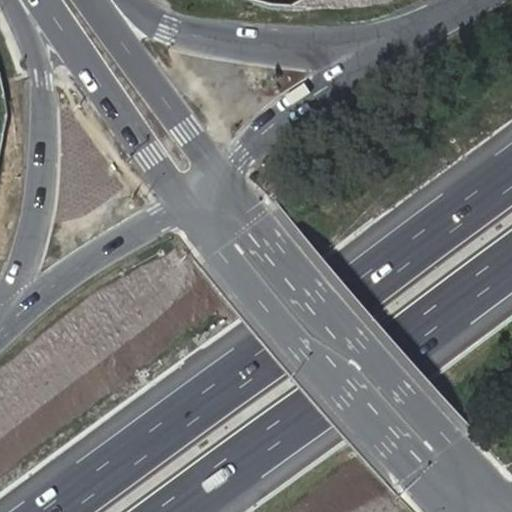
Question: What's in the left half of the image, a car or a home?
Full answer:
Looking in the left half of the image, you will find a car.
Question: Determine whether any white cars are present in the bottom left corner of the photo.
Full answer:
Yes, I can see a white car in the bottom left corner of the photo.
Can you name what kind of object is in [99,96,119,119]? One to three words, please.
car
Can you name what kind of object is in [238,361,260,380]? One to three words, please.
car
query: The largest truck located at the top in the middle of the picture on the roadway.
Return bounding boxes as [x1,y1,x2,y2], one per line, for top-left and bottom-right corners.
[274,82,311,114]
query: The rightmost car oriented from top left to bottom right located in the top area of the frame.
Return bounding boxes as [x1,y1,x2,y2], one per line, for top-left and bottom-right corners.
[120,124,140,148]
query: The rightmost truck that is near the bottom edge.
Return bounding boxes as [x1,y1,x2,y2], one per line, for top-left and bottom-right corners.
[202,462,238,493]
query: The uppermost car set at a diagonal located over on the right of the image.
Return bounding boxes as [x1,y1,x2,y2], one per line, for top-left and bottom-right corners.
[323,62,345,81]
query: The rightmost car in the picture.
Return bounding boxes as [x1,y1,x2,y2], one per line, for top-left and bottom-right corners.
[450,204,472,222]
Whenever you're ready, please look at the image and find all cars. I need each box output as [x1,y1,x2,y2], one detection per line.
[36,486,58,506]
[78,68,98,92]
[252,108,276,130]
[236,26,260,38]
[120,124,140,148]
[323,62,345,81]
[34,186,46,210]
[372,263,394,282]
[450,204,472,222]
[18,290,42,310]
[46,500,66,512]
[99,96,119,119]
[288,104,308,120]
[5,260,22,284]
[33,141,45,166]
[102,235,124,255]
[238,361,260,380]
[29,0,42,8]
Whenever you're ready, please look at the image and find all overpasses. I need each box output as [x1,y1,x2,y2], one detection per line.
[192,194,467,496]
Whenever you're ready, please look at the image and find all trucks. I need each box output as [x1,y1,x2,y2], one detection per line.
[202,462,238,493]
[274,82,311,114]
